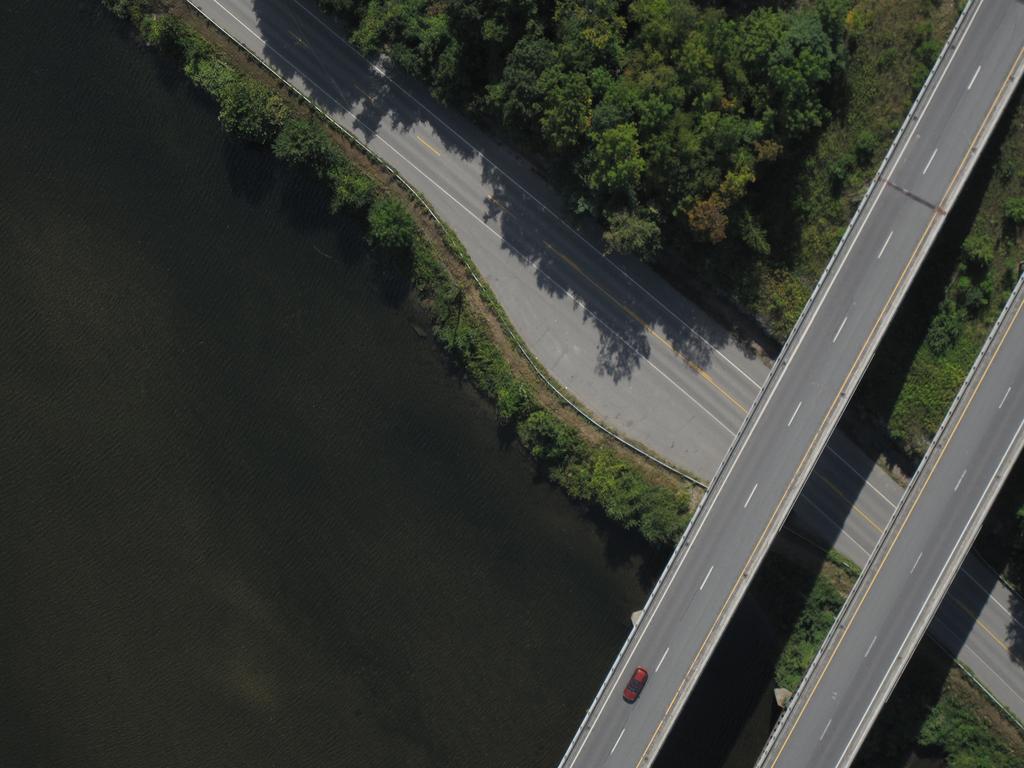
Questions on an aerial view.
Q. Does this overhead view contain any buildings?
No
